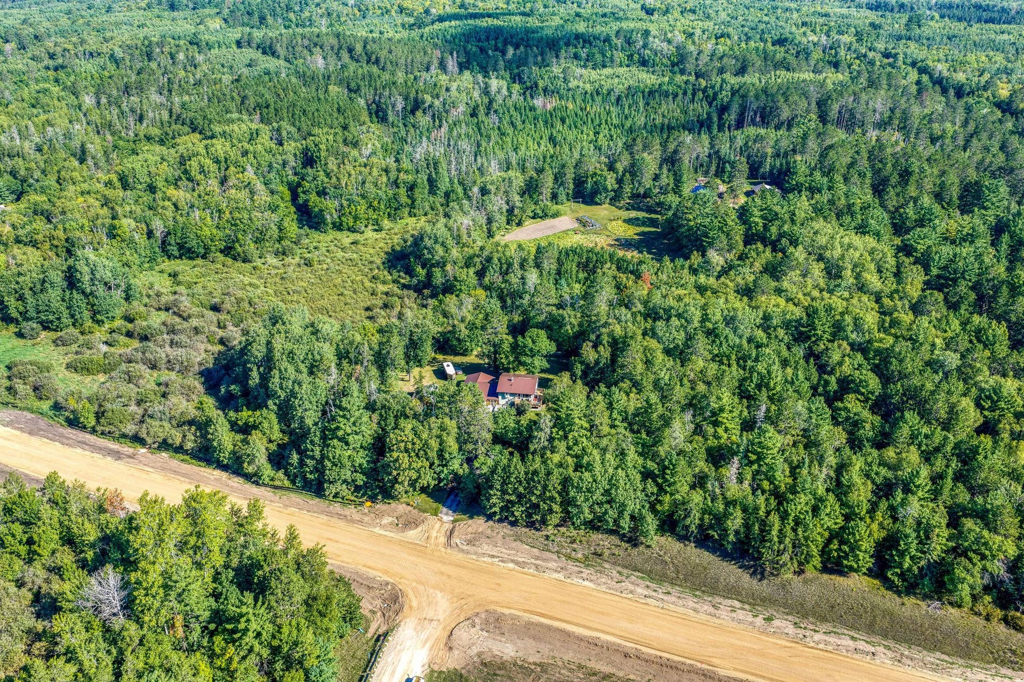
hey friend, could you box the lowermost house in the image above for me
[466,371,547,410]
